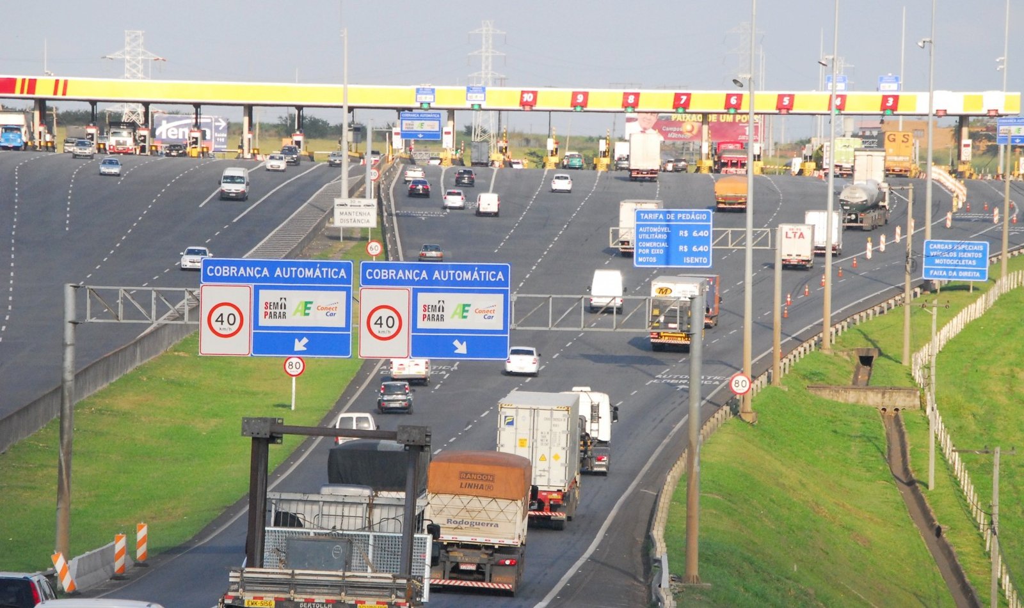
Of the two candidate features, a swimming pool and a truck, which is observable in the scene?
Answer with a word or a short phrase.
truck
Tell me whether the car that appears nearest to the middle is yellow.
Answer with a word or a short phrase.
No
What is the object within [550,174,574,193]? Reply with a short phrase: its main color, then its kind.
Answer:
white car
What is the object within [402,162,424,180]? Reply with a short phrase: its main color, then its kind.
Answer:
white vehicle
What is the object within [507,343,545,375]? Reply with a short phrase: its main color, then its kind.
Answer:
white car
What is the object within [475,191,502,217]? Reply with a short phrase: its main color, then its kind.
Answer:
white vehicle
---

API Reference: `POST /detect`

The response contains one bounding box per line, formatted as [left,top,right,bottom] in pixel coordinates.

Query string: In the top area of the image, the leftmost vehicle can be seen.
[0,117,36,155]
